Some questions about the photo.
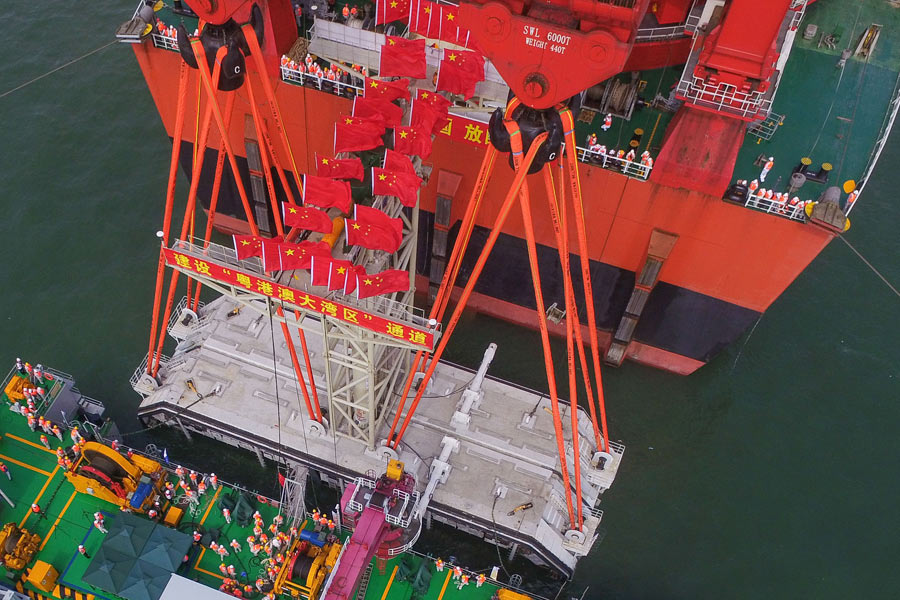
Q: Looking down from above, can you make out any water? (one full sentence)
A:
Yes, some water is visible.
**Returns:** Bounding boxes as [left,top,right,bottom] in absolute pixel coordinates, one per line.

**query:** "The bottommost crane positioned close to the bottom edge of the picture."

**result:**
[304,452,432,600]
